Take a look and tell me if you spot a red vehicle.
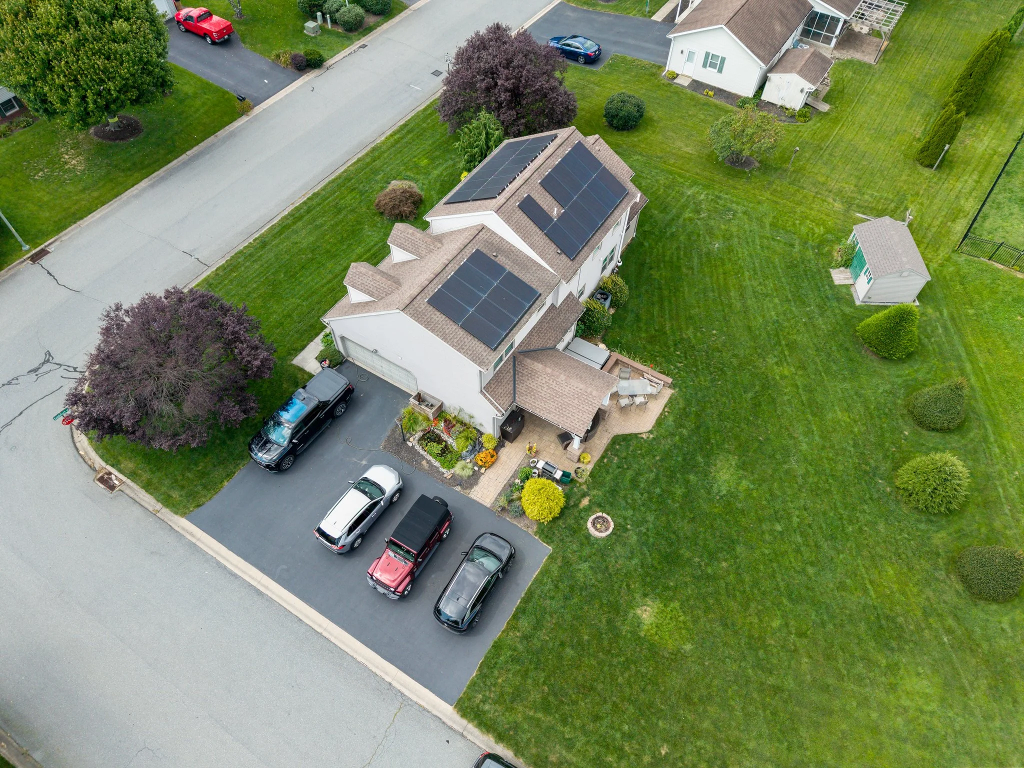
Yes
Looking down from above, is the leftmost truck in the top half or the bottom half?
top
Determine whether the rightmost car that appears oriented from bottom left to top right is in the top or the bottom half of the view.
bottom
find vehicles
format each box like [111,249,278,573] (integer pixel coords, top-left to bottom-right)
[429,527,517,636]
[468,749,510,768]
[542,31,602,63]
[173,5,236,44]
[244,369,354,474]
[314,463,403,556]
[364,498,452,600]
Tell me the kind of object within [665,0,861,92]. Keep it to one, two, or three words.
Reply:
house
